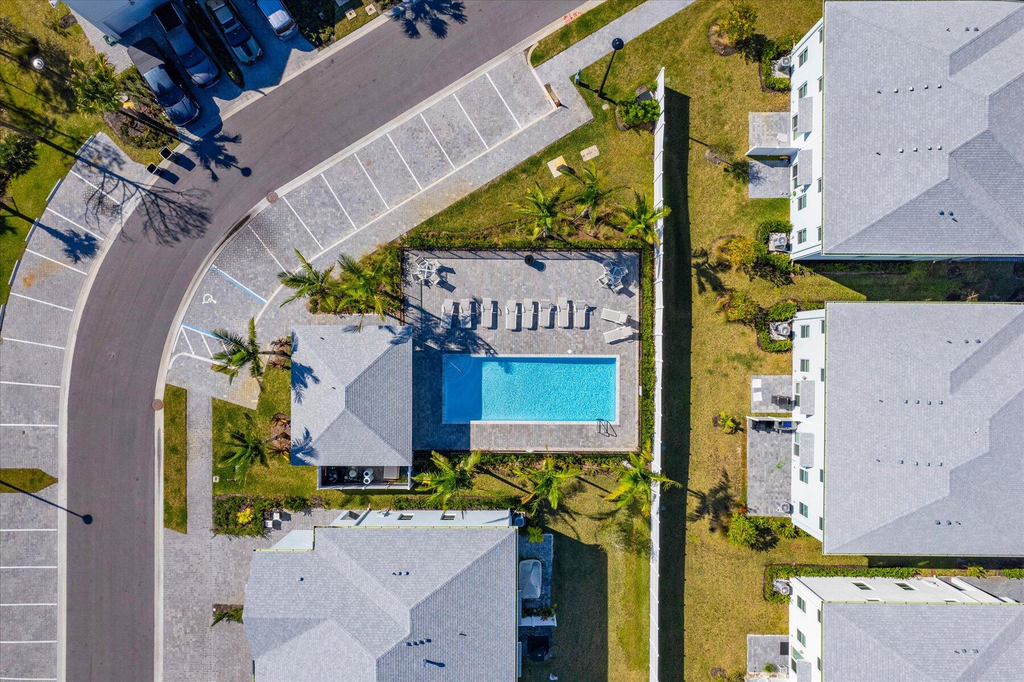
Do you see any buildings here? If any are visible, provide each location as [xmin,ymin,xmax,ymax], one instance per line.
[240,508,523,682]
[791,0,1024,260]
[792,301,1024,557]
[789,575,1024,682]
[290,324,413,468]
[59,0,184,39]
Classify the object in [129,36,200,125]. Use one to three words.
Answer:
truck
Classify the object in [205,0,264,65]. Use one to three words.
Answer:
car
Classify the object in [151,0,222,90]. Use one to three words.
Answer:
truck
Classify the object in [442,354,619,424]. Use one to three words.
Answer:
swimming pool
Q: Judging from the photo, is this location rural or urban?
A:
urban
